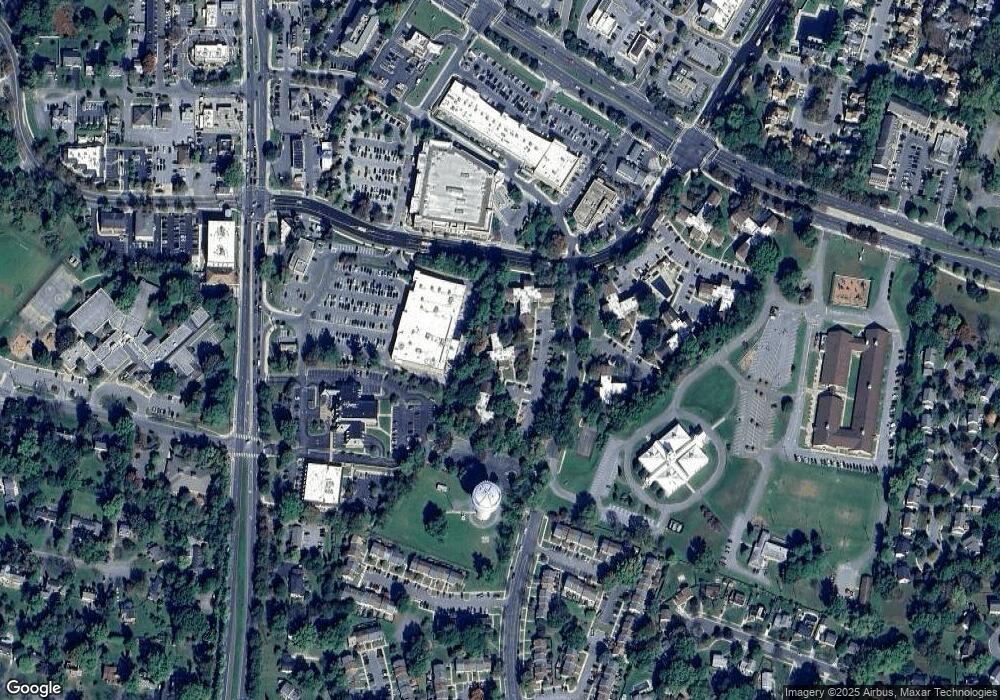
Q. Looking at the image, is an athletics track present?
No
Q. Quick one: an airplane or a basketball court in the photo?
basketball court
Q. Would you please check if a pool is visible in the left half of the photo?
No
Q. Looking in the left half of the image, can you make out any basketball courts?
Yes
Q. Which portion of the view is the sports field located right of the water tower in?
bottom right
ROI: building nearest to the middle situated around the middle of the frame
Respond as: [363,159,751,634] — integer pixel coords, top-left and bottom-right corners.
[472,323,515,374]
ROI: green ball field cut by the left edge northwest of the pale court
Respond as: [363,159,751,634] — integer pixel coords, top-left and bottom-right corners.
[0,229,62,332]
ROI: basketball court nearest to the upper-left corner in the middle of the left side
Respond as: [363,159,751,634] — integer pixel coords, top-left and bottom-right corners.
[19,264,81,327]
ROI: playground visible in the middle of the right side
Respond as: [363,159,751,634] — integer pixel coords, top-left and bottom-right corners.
[831,276,870,306]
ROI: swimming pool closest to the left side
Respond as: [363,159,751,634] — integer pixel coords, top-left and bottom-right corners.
[649,263,679,301]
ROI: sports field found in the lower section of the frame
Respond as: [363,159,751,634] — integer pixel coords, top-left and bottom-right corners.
[756,461,885,562]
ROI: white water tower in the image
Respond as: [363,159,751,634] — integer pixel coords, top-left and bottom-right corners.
[470,478,500,521]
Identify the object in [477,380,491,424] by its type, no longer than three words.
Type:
building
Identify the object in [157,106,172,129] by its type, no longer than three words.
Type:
building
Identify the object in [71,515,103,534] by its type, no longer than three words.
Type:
house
